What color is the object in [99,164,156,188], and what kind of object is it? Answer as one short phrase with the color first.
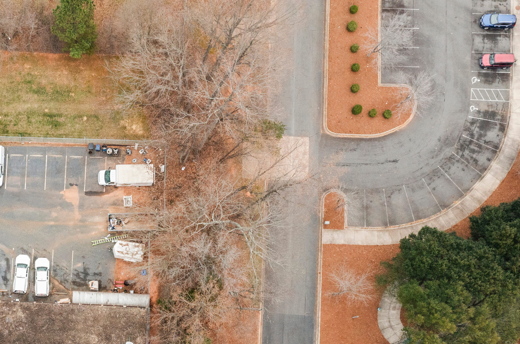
white truck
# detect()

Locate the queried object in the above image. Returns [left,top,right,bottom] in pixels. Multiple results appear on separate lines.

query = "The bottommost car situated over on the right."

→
[478,52,520,70]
